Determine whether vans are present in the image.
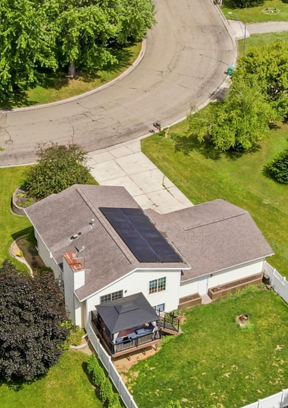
No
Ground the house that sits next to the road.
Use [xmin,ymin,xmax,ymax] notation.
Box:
[24,182,276,348]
